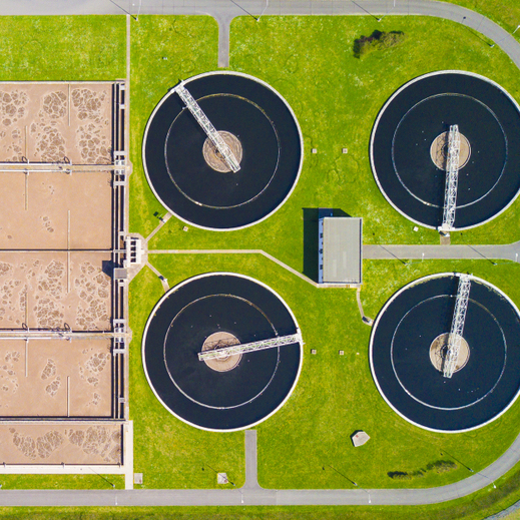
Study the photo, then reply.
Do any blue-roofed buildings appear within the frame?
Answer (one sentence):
No, the picture doesn't show any blue-roofed building.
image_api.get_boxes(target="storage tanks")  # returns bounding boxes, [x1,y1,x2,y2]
[142,70,302,231]
[368,272,520,432]
[369,70,520,231]
[142,272,301,431]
